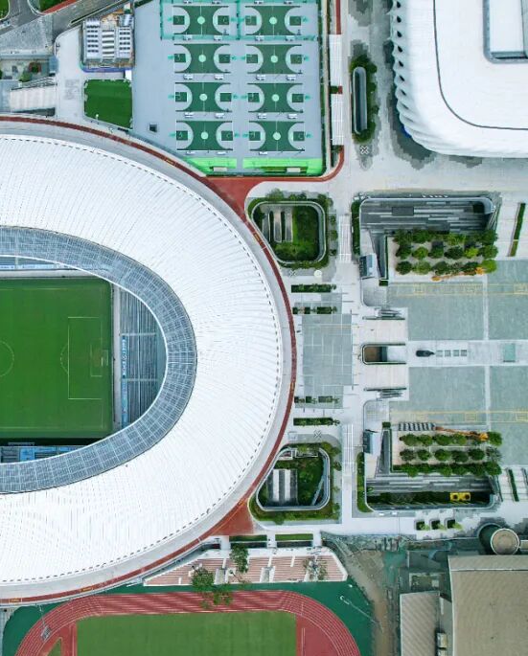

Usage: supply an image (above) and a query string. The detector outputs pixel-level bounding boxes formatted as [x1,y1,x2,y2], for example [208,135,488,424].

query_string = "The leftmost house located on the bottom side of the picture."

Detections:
[360,429,376,454]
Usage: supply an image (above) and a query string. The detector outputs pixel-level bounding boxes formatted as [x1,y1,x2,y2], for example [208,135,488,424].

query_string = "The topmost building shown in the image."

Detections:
[79,3,135,75]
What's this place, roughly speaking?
sports ground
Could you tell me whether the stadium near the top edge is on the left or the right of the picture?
right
